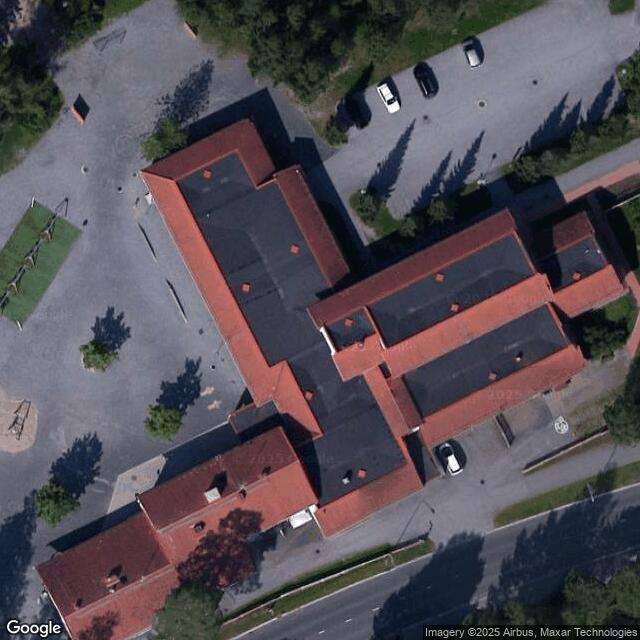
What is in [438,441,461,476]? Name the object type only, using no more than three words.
car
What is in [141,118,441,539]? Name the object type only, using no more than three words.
building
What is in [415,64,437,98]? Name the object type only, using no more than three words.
car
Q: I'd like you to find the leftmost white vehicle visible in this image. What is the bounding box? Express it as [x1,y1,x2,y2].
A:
[376,82,401,114]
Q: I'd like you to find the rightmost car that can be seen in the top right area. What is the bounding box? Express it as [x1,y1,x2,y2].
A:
[463,40,482,69]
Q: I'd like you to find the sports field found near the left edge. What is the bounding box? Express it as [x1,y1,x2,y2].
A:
[0,200,82,321]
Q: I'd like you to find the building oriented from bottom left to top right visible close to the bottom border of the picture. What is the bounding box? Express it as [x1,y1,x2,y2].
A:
[36,425,318,640]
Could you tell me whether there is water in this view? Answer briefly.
No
